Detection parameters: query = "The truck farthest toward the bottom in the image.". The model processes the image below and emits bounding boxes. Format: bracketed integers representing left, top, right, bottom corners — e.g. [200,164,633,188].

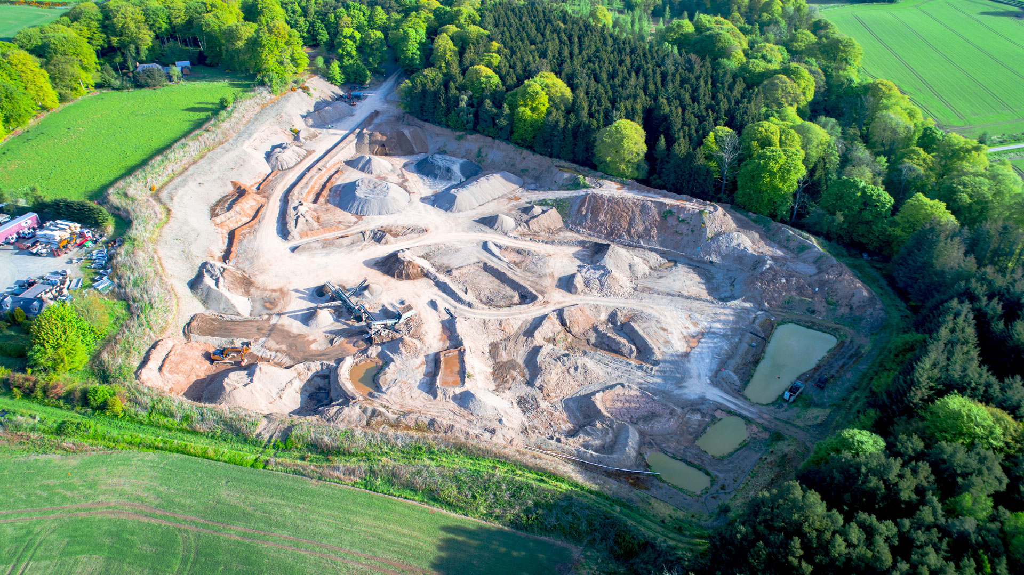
[783,376,808,403]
